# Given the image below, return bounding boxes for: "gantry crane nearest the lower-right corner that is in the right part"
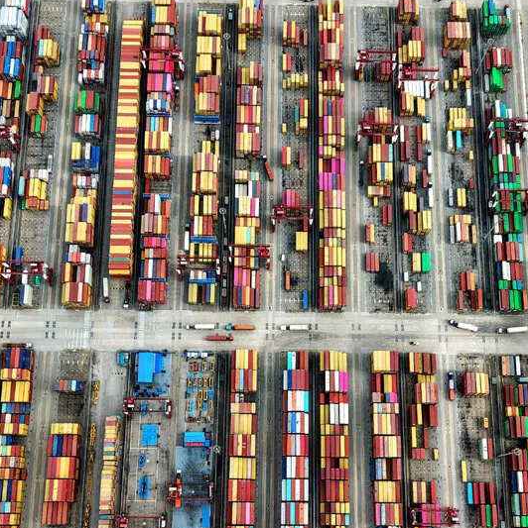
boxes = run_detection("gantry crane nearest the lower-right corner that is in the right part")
[404,506,461,528]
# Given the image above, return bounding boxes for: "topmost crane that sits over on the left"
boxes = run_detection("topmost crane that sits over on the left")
[140,47,187,81]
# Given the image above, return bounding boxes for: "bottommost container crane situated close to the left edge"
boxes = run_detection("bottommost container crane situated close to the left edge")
[0,258,52,288]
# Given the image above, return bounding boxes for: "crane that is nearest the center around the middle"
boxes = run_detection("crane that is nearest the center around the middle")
[227,242,271,272]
